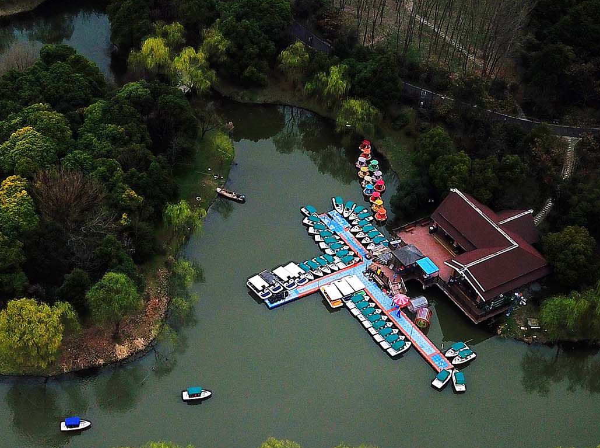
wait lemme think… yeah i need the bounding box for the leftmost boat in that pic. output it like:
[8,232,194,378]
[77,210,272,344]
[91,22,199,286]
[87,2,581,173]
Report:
[61,418,92,432]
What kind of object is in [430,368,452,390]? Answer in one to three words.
boat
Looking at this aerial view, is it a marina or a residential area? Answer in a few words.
marina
